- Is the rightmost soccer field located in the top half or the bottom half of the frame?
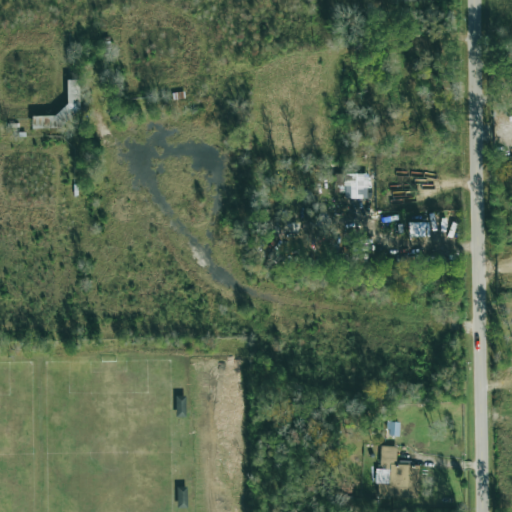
bottom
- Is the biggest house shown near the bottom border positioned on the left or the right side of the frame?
right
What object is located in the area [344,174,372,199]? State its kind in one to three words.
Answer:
house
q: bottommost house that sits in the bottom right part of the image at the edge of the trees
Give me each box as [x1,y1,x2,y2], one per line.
[376,446,410,490]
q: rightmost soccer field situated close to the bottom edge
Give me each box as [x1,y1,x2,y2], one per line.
[46,362,172,512]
